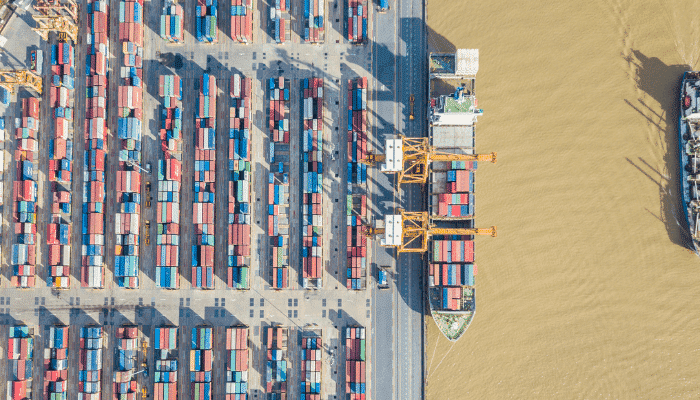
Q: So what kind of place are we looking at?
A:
port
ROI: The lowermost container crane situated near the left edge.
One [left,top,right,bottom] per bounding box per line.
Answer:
[0,66,44,97]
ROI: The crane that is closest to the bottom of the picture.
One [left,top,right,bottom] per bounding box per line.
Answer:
[364,209,495,263]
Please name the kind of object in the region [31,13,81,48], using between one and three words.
container crane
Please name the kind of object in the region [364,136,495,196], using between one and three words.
container crane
